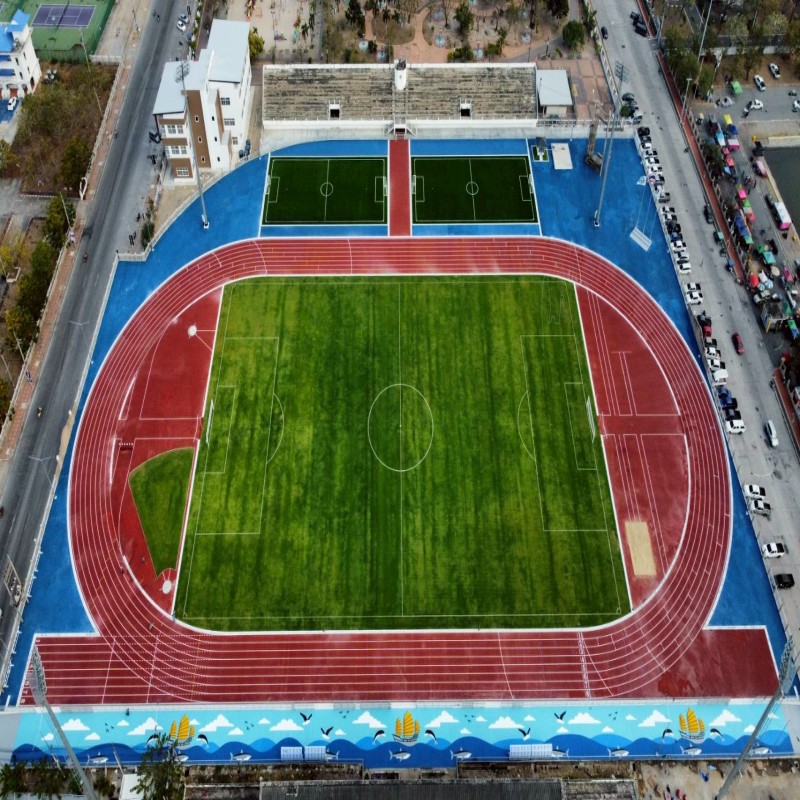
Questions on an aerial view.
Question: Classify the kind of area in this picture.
sports ground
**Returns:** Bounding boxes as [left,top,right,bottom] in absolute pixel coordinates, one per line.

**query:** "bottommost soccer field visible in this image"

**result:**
[172,275,634,629]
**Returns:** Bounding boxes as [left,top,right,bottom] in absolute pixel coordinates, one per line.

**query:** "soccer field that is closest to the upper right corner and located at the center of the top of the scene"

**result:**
[409,138,541,236]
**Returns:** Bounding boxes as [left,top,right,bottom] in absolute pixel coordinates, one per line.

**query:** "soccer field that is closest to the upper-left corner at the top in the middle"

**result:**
[256,143,389,237]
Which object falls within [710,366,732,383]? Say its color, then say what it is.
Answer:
white vehicle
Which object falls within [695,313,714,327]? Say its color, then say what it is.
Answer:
black vehicle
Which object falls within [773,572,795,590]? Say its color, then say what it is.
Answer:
black car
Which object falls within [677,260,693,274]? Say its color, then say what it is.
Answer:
white car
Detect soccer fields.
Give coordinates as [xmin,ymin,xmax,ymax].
[172,275,634,629]
[409,138,541,236]
[256,143,389,237]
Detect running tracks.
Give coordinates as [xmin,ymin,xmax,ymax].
[20,238,784,703]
